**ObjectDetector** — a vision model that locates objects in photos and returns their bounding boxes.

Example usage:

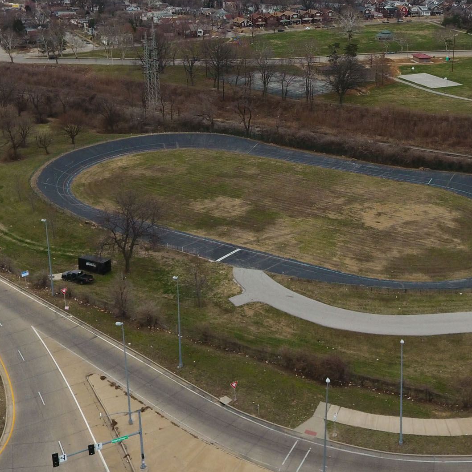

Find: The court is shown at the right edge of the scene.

[398,73,461,88]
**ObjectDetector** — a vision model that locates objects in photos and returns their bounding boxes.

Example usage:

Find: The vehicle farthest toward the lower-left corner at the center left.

[61,270,95,286]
